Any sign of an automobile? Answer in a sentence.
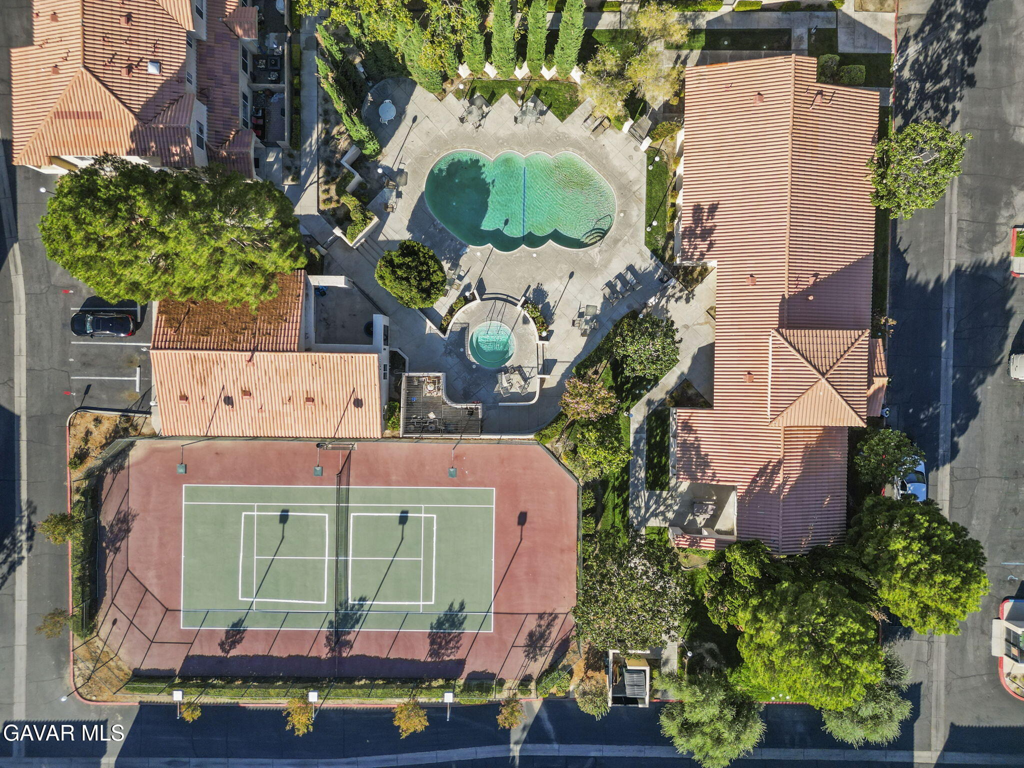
Yes, there's an automobile here.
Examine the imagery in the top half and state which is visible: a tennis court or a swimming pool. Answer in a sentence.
There is a swimming pool in the top half.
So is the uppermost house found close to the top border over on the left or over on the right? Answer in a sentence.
It is on the left.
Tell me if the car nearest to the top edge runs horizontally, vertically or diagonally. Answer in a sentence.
In this picture, the car nearest to the top edge lies horizontally.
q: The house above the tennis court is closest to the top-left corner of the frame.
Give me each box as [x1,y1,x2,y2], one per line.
[9,0,267,186]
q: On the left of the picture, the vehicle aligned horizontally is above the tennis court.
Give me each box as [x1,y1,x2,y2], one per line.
[73,309,139,340]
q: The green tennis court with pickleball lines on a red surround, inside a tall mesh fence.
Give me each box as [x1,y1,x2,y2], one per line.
[102,442,576,679]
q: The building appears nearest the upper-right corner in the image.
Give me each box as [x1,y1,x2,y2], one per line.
[669,55,887,555]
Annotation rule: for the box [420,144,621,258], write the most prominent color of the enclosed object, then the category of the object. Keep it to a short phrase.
green swimming pool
